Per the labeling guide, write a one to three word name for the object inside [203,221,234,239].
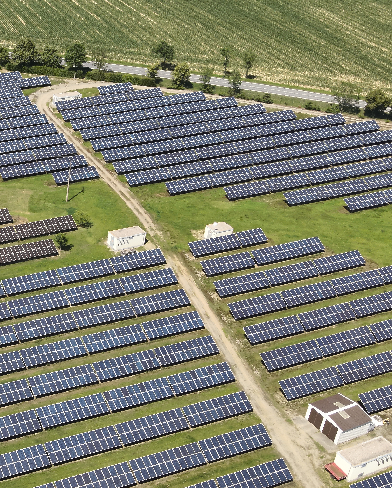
building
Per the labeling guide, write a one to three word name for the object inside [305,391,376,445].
building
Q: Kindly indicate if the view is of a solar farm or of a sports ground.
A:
solar farm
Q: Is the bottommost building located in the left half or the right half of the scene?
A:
right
